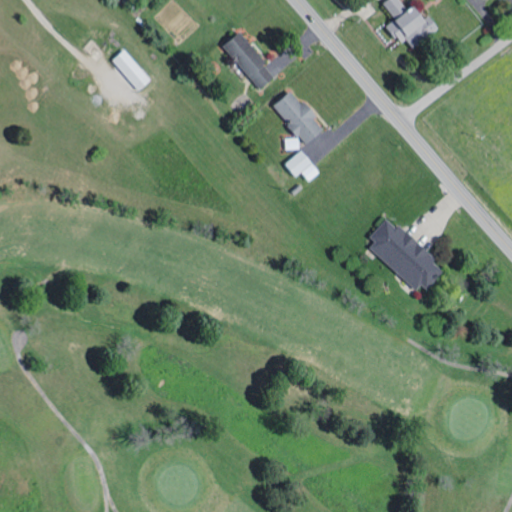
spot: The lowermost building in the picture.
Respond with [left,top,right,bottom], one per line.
[370,220,442,290]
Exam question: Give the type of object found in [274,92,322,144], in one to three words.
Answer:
house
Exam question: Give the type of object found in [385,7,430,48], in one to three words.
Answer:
house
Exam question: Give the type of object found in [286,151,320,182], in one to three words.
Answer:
building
